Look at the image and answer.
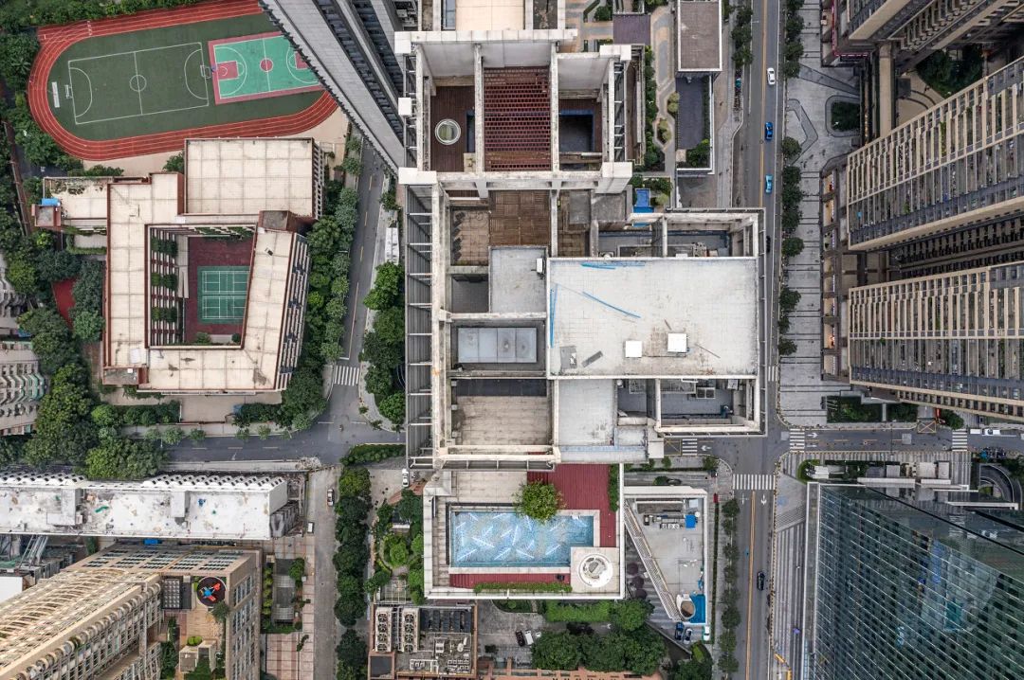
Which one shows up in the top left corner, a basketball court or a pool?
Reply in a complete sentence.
The feature located in the top left corner is a basketball court.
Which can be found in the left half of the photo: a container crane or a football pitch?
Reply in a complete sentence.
The feature located in the left half of the photo is a football pitch.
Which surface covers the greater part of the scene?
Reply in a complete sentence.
Most of the picture is covered by buildings.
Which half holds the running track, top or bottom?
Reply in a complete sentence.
The running track is in the top half of the image.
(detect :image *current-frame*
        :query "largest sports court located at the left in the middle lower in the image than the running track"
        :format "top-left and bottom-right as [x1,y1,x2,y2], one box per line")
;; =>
[198,266,249,323]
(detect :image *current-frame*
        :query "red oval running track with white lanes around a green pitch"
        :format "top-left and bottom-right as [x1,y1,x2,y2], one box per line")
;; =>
[28,0,336,157]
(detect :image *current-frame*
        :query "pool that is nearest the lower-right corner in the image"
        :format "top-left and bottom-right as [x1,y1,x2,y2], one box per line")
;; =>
[690,593,704,621]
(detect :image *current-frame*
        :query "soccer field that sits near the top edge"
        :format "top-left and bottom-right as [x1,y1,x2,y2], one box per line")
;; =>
[47,13,323,138]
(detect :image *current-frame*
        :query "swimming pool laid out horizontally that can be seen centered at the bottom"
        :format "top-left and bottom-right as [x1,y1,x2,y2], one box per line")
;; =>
[448,506,602,573]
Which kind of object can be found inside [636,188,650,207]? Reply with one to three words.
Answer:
swimming pool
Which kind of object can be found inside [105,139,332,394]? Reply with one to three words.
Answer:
building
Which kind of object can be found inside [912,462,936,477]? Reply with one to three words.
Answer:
shed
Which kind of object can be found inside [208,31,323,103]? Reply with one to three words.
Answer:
basketball court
